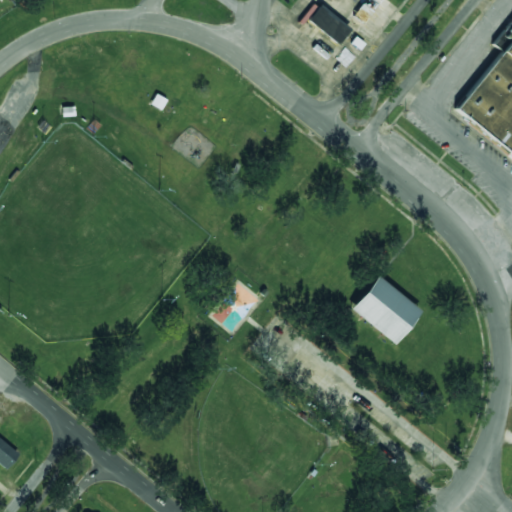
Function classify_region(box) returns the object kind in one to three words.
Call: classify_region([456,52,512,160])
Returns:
building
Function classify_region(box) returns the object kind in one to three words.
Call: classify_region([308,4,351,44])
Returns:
building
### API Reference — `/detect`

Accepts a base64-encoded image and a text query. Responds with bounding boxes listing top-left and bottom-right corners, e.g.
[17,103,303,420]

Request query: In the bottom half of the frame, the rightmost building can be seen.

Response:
[352,277,422,346]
